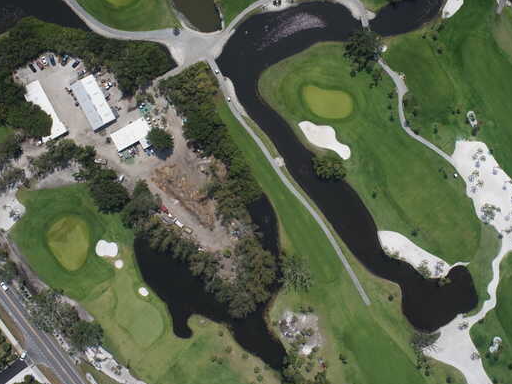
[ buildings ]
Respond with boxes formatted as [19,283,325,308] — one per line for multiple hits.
[110,117,150,151]
[24,80,69,139]
[70,74,118,130]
